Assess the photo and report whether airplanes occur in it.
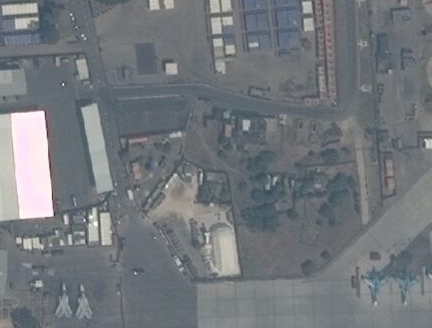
Yes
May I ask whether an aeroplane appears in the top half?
No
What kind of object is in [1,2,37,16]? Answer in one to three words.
building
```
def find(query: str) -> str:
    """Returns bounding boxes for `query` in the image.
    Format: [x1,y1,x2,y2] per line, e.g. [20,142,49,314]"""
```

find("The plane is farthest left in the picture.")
[54,283,71,320]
